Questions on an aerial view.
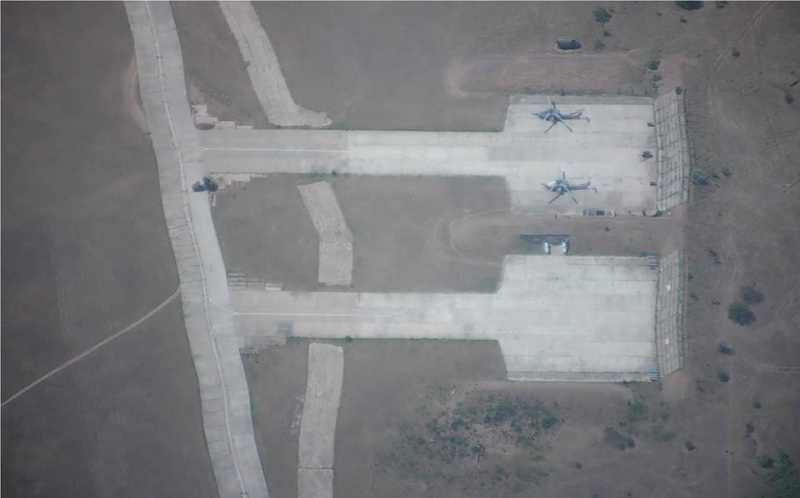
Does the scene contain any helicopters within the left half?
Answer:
No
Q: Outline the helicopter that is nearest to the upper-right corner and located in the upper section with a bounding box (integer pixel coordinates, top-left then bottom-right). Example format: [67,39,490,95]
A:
[529,96,587,127]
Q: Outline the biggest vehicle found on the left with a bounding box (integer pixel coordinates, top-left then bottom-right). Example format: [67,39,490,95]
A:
[203,179,220,192]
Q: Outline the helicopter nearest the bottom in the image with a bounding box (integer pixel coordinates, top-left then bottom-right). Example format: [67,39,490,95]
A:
[538,167,596,199]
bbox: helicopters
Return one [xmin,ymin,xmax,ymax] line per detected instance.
[529,96,587,127]
[538,167,596,199]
